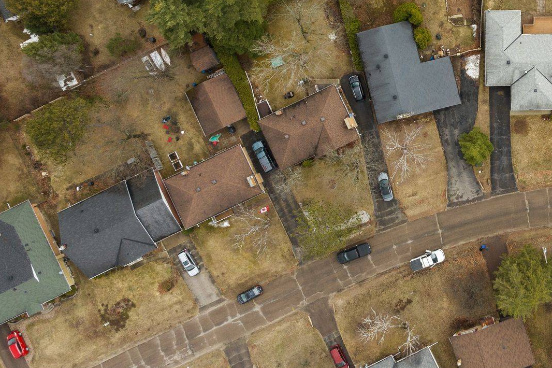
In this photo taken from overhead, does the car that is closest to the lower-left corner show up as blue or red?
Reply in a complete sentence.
From above, the car that is closest to the lower-left corner appears red.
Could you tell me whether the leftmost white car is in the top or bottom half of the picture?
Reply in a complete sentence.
You can find the leftmost white car in the bottom half.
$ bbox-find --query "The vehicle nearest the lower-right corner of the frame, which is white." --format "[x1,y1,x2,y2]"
[410,246,446,272]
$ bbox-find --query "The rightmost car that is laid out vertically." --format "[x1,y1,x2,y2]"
[378,171,396,201]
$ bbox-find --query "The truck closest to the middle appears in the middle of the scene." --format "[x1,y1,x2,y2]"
[252,139,275,175]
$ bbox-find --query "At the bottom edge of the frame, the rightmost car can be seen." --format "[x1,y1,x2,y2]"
[330,342,350,368]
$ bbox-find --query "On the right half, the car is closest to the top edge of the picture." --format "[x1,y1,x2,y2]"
[347,74,367,103]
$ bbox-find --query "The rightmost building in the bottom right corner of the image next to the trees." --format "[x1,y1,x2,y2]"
[448,314,536,368]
